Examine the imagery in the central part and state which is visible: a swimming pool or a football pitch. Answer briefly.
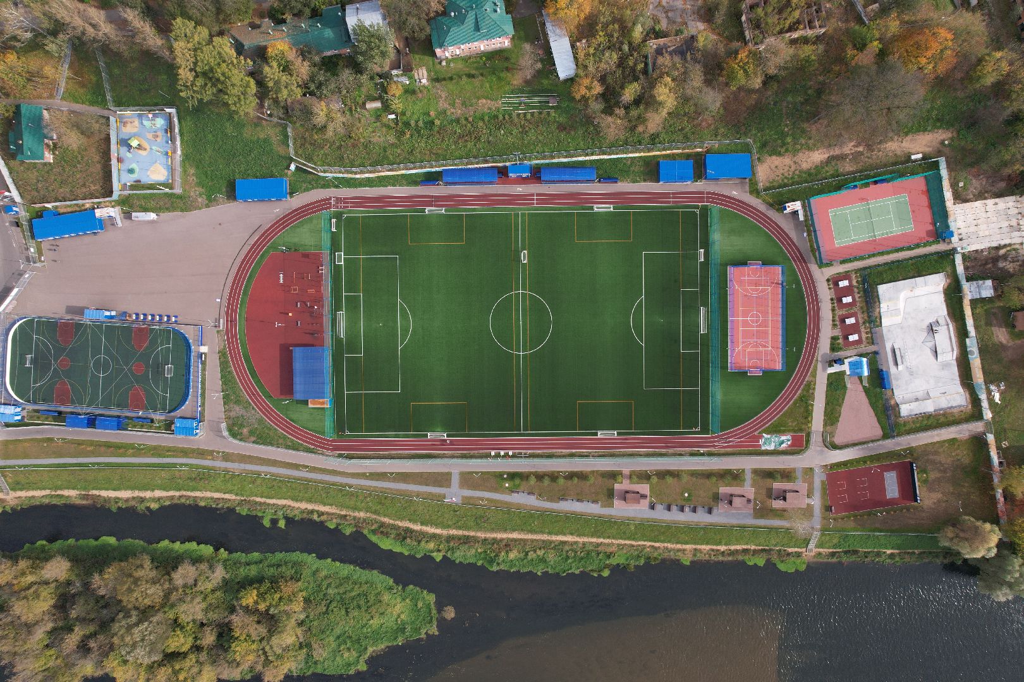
football pitch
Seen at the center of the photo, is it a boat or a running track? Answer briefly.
running track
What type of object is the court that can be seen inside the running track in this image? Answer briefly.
basketball court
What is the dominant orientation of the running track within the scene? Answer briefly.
from side to side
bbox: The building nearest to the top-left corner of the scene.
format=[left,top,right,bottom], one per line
[9,103,61,163]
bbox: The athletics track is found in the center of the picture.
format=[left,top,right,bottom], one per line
[225,191,821,451]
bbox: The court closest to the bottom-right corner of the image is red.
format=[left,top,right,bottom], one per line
[826,460,923,516]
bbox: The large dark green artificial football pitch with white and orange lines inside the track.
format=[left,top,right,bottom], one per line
[239,204,807,439]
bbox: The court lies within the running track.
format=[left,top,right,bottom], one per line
[729,262,782,375]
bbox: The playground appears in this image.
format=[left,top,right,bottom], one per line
[117,113,171,183]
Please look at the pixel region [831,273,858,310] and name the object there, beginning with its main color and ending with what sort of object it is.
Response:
red tennis court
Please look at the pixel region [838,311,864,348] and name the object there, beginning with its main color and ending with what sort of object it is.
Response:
red tennis court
